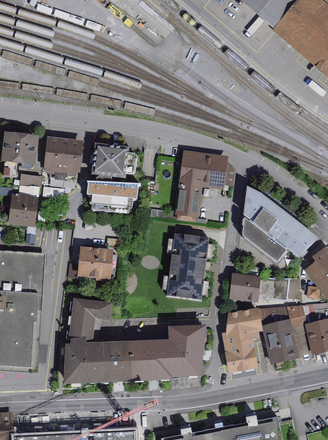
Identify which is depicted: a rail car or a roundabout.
rail car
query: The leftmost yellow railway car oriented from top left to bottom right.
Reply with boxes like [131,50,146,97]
[106,3,124,20]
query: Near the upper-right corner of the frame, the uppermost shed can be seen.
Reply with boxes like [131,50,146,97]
[245,0,294,28]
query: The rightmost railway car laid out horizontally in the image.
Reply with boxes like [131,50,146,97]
[124,103,156,116]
